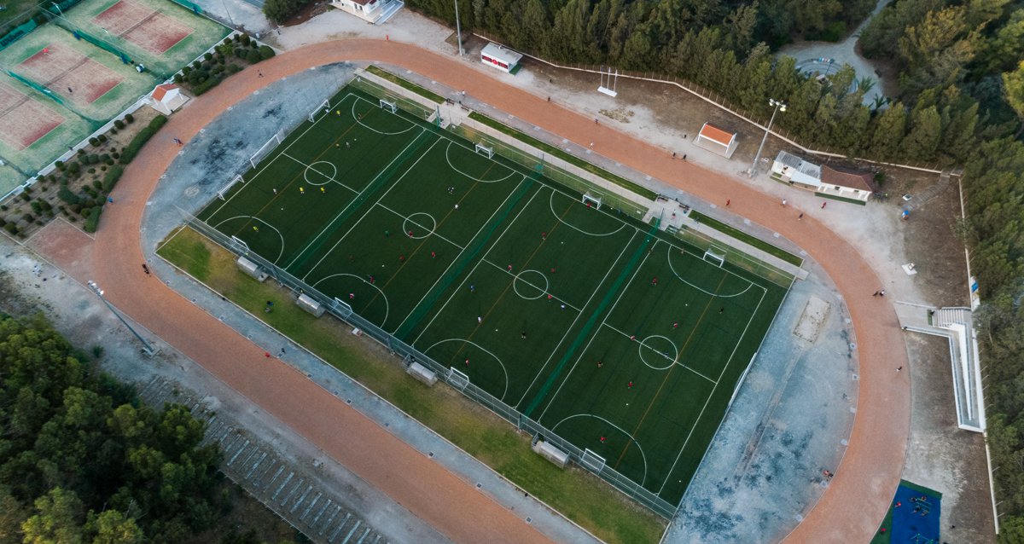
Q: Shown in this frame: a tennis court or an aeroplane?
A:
tennis court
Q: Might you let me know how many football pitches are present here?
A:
4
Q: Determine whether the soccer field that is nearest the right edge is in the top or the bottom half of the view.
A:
bottom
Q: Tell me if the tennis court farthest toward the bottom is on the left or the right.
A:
left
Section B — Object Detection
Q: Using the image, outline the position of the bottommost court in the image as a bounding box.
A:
[0,159,27,196]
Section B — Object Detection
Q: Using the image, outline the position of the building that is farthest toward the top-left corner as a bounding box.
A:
[147,81,190,116]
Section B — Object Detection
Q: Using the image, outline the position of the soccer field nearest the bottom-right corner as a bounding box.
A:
[538,239,765,495]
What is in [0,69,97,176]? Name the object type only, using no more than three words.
tennis court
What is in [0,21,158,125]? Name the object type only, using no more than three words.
tennis court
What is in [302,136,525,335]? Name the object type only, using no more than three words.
soccer field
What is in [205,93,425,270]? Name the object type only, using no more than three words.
soccer field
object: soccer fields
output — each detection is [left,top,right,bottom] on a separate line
[205,93,425,270]
[538,239,765,495]
[412,184,638,409]
[302,136,525,335]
